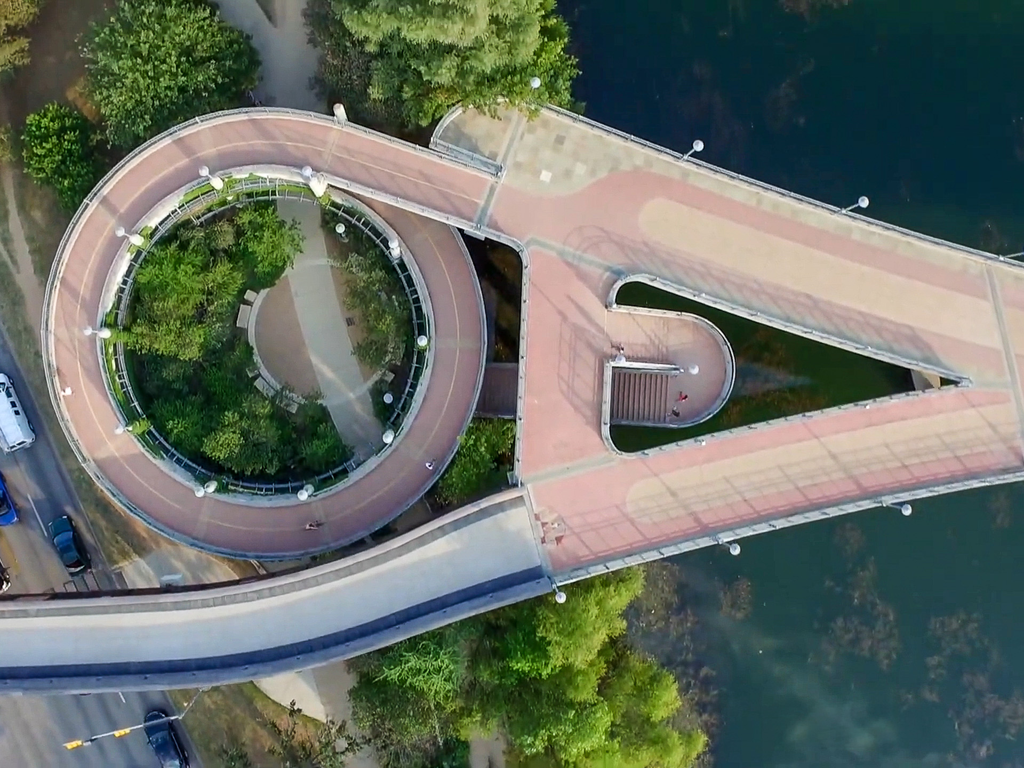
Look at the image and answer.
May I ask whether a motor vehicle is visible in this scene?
Yes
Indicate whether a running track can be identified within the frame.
No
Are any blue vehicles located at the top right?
No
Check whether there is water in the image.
Yes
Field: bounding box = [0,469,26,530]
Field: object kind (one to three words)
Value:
car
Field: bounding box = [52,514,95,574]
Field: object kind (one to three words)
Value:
car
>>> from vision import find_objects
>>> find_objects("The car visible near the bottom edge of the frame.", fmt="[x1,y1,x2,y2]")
[147,711,195,768]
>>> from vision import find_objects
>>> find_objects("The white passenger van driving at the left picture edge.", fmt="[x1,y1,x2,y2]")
[0,375,41,454]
